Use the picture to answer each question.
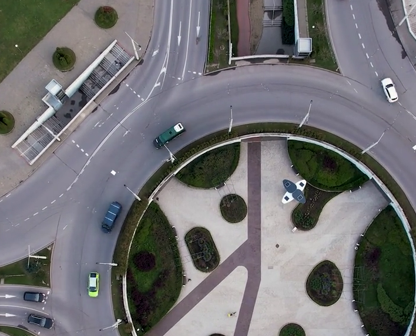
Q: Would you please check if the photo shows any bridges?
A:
No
